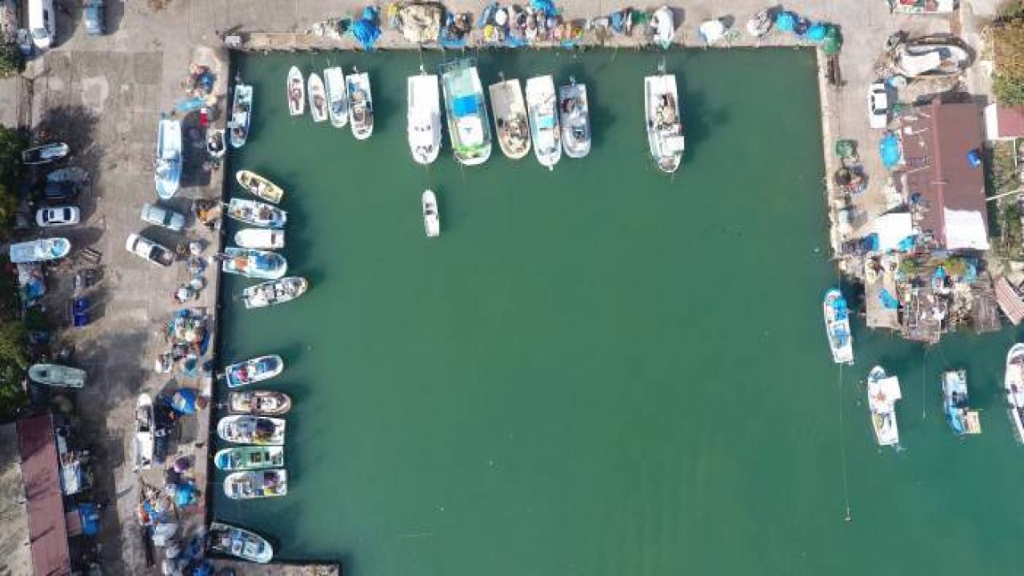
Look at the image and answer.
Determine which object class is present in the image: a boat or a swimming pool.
boat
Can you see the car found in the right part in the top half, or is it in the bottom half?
top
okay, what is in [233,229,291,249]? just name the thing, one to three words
boat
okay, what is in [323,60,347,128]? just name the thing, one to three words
boat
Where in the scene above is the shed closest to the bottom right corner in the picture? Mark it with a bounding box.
[992,275,1024,327]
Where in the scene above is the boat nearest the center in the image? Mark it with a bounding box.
[424,189,439,240]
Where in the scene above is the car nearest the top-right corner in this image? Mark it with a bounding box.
[867,82,889,128]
